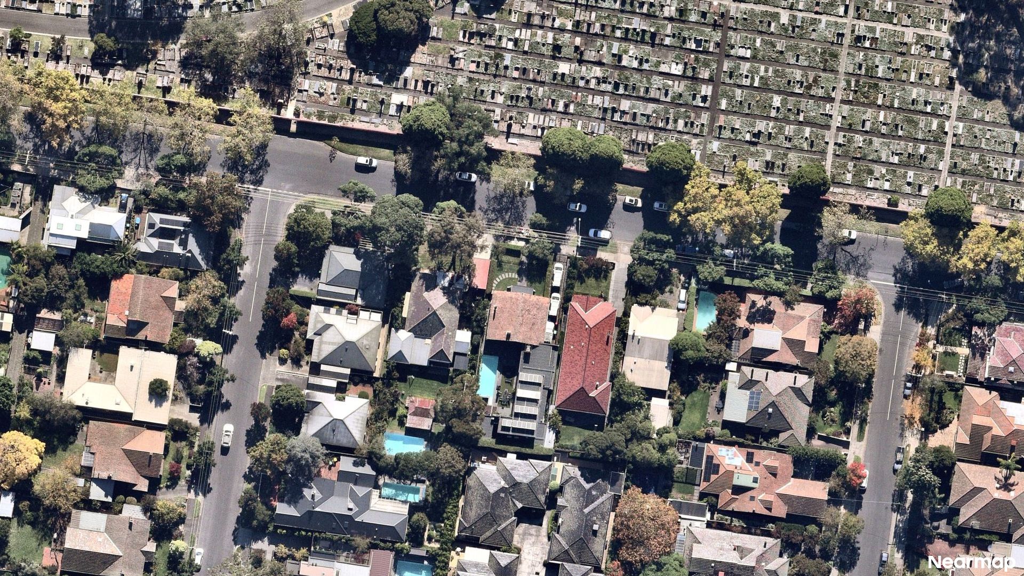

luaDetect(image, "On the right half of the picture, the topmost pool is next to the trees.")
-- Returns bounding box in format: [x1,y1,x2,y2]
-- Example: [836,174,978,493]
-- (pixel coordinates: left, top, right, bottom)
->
[696,290,718,332]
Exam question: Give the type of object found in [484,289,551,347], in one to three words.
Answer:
house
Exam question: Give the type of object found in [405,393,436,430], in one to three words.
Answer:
shed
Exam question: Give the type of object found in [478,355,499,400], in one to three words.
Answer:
swimming pool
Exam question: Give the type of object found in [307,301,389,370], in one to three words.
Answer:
house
